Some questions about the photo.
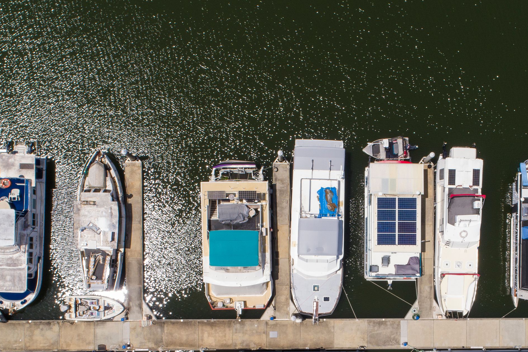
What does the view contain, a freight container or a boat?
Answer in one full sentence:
This aerial view contains a boat.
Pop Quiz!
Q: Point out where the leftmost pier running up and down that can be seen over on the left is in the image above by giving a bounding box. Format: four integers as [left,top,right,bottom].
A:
[113,155,157,320]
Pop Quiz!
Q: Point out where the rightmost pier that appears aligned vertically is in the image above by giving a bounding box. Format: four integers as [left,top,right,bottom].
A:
[403,158,446,318]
